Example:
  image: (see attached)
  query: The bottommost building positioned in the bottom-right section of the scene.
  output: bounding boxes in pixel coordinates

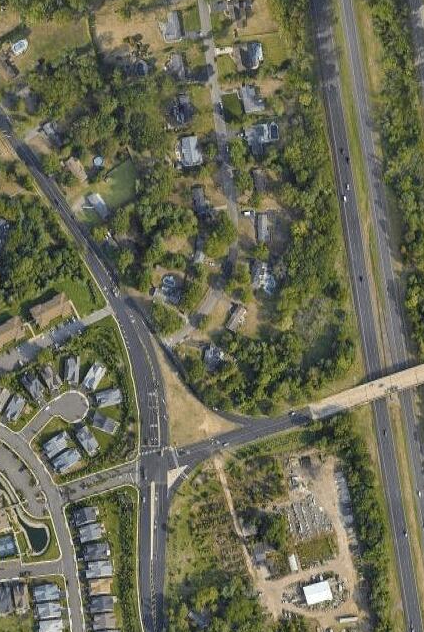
[303,580,333,605]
